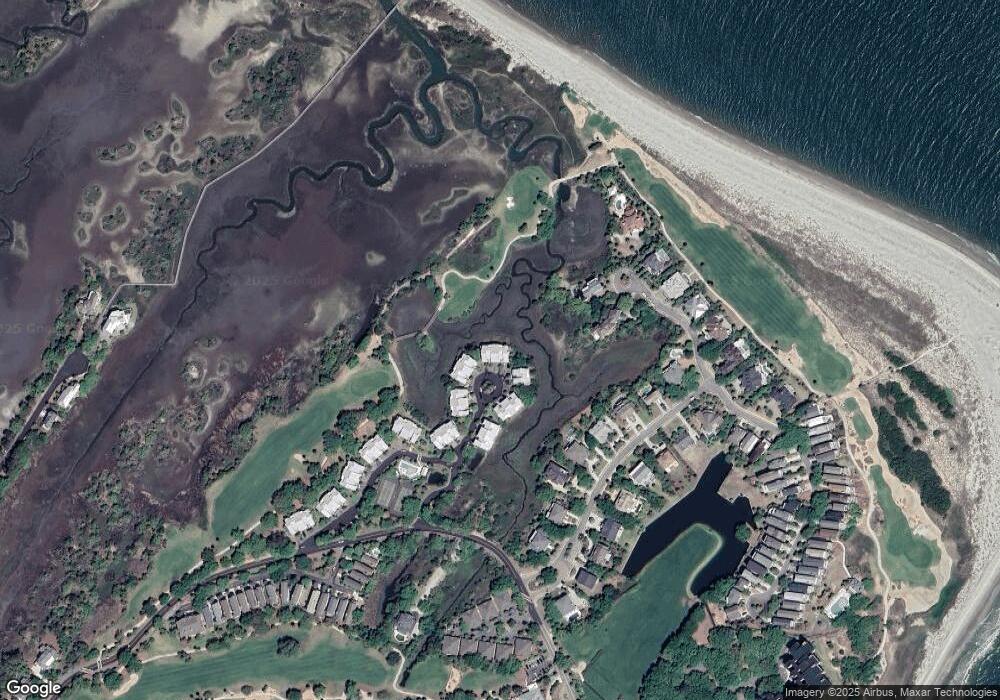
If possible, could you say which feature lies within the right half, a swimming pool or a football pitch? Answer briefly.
swimming pool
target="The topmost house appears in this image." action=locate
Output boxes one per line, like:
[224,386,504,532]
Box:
[617,209,646,237]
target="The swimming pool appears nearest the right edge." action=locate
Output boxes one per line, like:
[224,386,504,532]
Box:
[825,588,850,618]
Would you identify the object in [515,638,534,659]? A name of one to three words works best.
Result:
house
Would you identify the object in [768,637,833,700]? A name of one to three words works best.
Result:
building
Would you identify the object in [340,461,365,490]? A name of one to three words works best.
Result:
house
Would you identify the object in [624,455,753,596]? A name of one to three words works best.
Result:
pond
